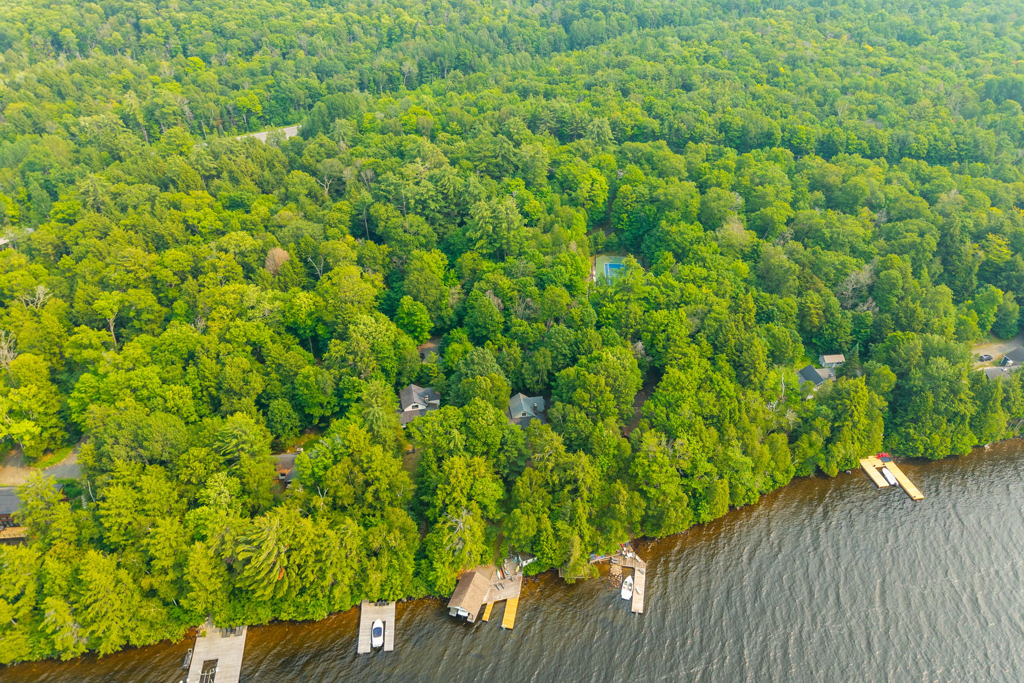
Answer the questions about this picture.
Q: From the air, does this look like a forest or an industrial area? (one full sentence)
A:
The picture captures a forest.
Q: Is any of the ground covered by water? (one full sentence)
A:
Yes, some water is visible.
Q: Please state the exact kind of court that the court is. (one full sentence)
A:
From above, the court can be identified as a tennis court.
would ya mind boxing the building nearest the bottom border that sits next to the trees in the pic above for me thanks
[447,572,490,625]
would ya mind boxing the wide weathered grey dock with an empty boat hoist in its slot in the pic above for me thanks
[187,626,247,683]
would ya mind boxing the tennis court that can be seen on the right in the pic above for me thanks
[596,255,653,309]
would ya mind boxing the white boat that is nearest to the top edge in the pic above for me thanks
[883,467,899,487]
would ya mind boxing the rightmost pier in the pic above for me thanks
[860,456,924,500]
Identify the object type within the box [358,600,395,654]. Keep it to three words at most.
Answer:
pier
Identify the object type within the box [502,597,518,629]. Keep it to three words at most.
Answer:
pier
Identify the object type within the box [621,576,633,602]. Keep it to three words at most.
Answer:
boat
